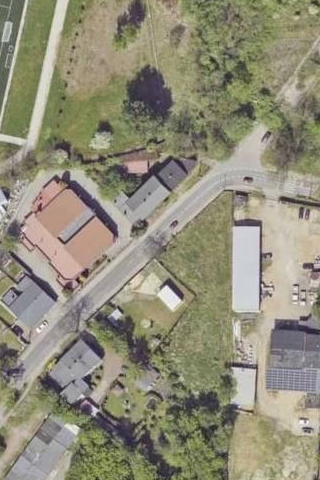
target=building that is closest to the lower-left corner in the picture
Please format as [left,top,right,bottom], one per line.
[6,415,80,480]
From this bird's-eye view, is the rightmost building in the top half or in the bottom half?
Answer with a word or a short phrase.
bottom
